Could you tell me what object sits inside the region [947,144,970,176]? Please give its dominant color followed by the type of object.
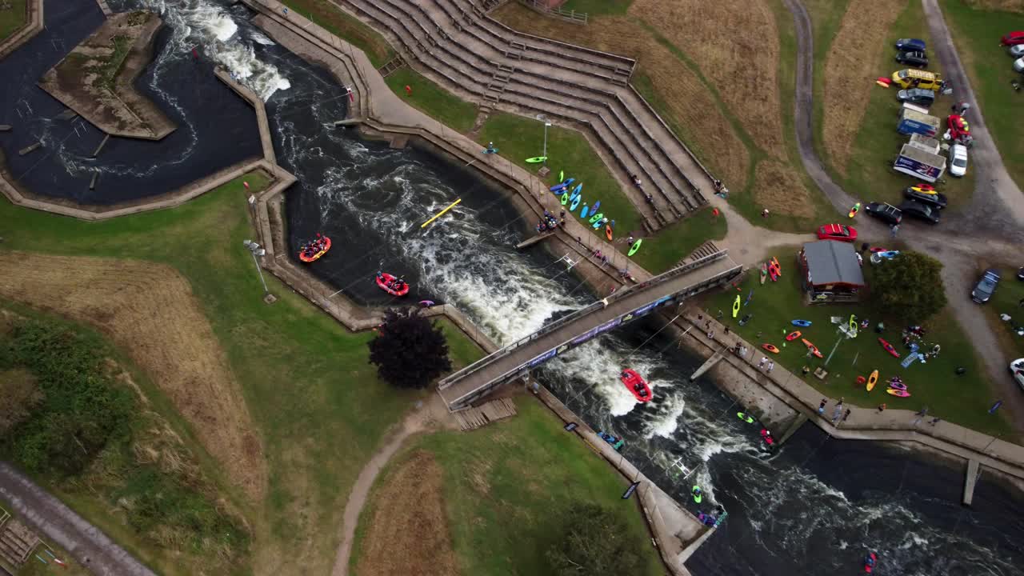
white car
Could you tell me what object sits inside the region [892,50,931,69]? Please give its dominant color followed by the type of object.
black car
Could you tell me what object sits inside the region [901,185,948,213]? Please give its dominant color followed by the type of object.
black car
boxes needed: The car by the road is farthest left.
[815,222,860,245]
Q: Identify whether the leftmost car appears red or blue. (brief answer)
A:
red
